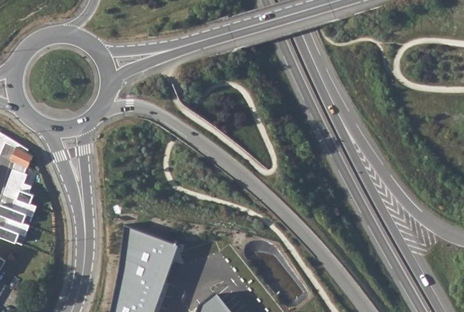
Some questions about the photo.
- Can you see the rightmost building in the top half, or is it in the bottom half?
bottom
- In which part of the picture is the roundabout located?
top left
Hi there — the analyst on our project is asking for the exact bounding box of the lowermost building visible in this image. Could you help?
[194,292,231,312]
